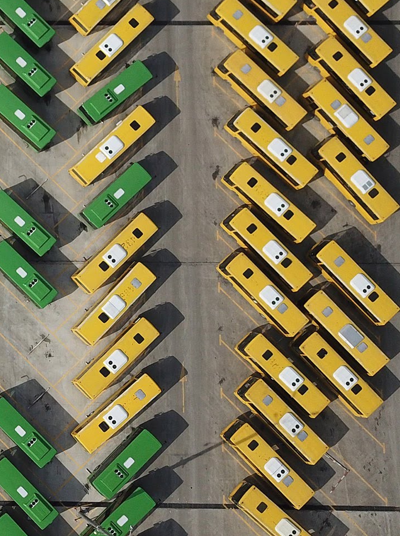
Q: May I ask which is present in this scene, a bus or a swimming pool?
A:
bus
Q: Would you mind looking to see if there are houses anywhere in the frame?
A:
No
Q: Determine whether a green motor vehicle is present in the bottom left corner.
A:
Yes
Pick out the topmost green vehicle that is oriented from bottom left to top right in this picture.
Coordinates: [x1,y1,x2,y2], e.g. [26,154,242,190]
[78,60,156,126]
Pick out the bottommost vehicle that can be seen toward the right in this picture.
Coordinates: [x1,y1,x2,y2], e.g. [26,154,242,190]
[230,478,306,536]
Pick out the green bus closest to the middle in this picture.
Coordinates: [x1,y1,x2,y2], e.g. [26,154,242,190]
[79,161,156,230]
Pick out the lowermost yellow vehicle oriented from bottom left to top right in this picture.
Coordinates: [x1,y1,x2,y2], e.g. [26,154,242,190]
[70,369,164,451]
